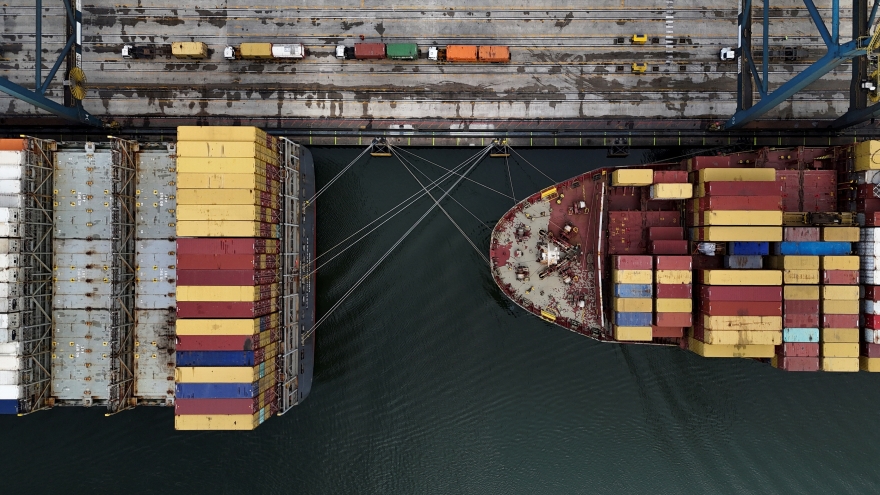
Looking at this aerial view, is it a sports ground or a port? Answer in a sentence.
This looks like a port.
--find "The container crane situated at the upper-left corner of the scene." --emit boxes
[0,0,130,132]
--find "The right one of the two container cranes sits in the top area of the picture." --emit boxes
[697,0,880,132]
